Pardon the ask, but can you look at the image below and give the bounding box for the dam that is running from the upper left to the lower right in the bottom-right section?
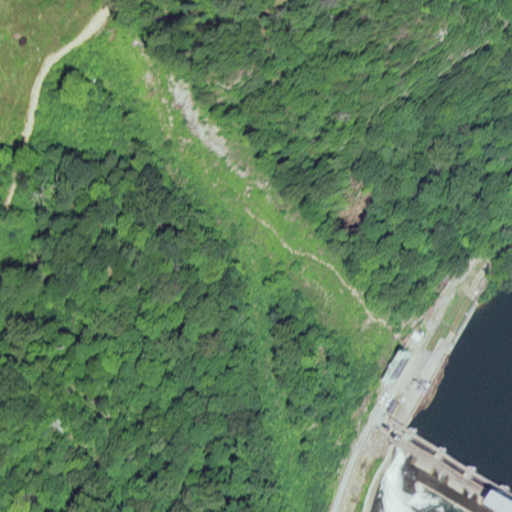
[389,421,512,512]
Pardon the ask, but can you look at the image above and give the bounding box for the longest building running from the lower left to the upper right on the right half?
[382,350,412,387]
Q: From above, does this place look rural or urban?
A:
rural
